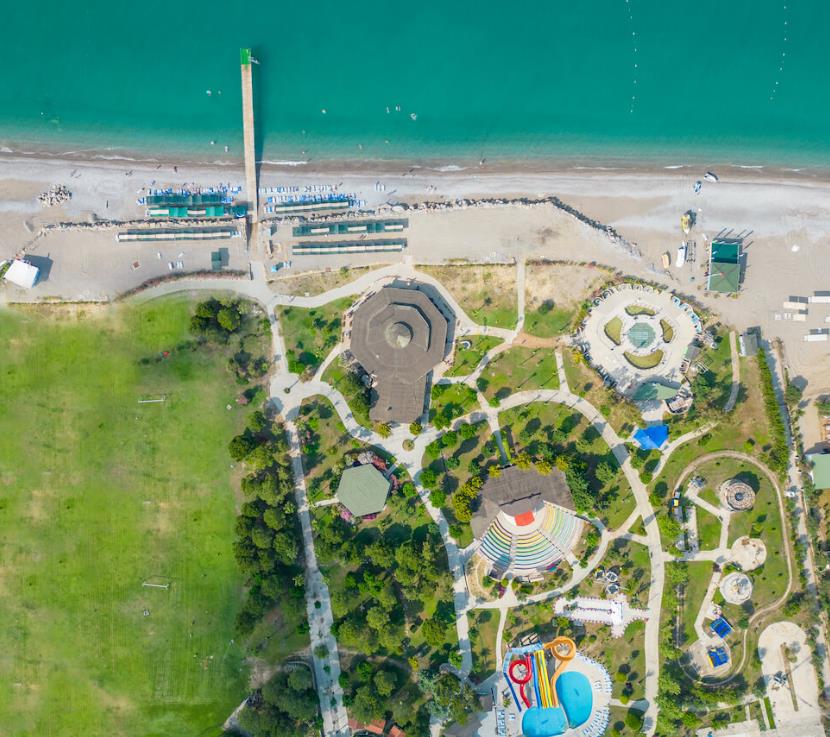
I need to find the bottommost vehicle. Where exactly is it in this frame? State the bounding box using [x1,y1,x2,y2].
[773,673,789,687]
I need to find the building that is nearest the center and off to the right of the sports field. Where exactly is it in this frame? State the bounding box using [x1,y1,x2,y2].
[351,288,446,423]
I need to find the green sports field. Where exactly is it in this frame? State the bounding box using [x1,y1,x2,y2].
[0,290,246,737]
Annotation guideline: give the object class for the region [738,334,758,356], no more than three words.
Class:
shed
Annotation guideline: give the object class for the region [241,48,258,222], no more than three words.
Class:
pier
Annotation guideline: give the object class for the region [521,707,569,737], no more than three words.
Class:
swimming pool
